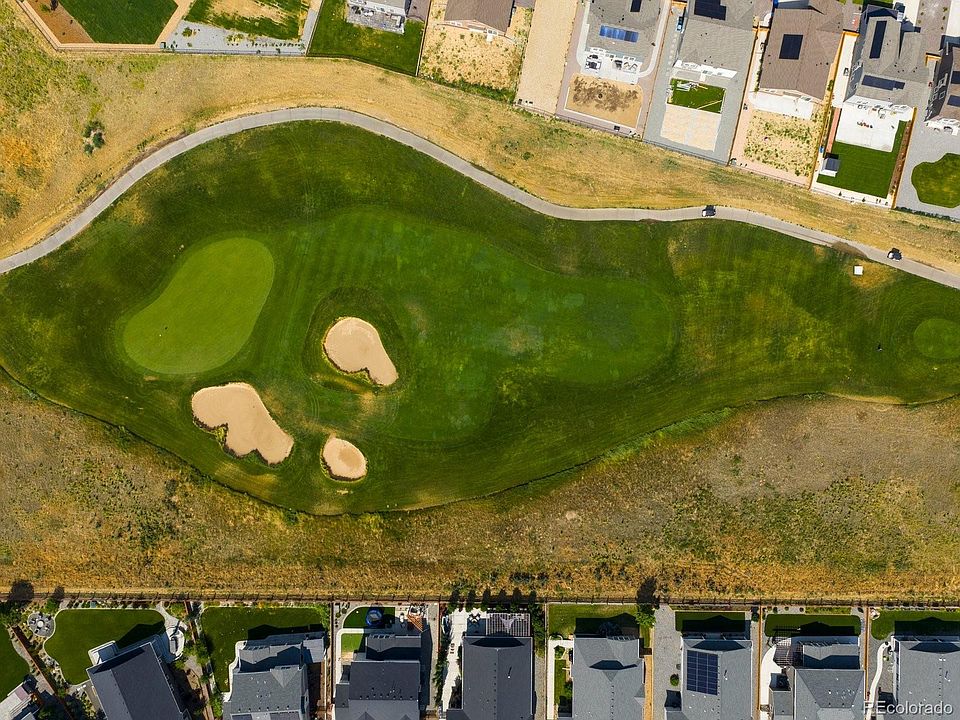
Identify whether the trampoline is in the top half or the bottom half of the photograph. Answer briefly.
bottom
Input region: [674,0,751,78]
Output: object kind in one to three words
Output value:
house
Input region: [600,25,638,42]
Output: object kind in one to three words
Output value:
solar panel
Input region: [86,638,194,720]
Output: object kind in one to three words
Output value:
house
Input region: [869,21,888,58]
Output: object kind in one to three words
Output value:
solar panel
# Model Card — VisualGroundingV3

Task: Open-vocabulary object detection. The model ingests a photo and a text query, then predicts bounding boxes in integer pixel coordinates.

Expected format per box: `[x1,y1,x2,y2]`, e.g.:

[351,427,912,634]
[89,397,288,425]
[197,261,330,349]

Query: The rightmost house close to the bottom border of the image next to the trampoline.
[334,633,422,720]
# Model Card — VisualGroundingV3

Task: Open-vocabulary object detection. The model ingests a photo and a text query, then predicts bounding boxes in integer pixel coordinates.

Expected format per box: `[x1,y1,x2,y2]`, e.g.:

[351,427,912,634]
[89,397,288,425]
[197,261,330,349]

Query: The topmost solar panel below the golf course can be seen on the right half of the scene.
[687,651,717,696]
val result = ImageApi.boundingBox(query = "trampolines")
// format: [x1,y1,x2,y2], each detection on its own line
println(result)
[364,608,383,630]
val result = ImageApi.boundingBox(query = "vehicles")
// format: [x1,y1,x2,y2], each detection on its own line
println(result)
[884,252,903,262]
[700,210,717,218]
